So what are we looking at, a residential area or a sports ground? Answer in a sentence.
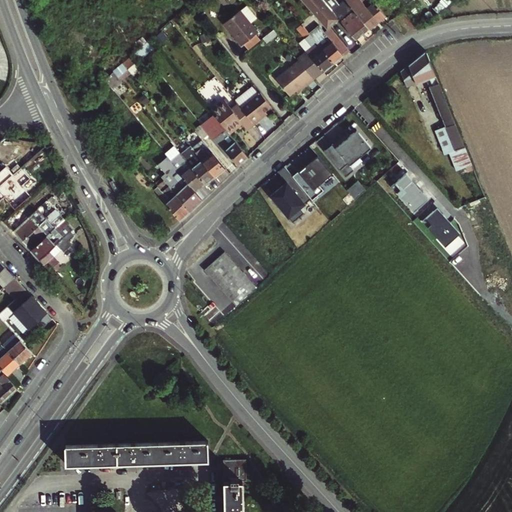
What you see here is a residential area.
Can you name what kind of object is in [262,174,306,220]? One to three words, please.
house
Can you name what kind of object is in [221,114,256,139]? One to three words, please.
house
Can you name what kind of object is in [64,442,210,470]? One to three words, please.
building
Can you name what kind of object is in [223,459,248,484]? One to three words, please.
building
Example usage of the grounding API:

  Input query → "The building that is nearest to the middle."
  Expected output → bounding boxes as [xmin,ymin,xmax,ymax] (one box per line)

[204,252,257,304]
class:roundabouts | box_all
[102,248,179,325]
